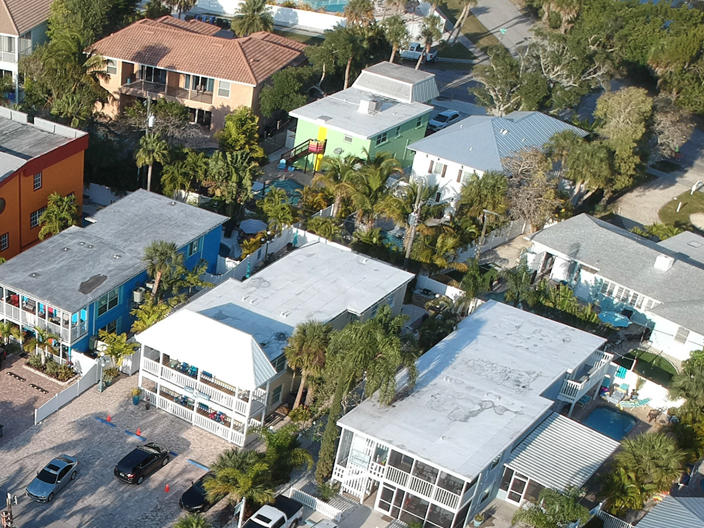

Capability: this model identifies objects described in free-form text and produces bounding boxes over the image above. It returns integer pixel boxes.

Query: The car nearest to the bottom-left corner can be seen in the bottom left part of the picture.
[26,455,81,497]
